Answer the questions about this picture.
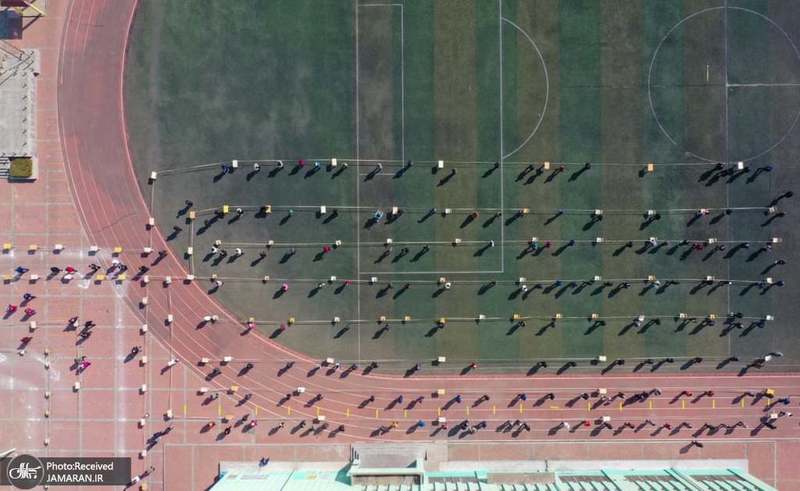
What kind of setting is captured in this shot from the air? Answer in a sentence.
What you see here is a sports ground.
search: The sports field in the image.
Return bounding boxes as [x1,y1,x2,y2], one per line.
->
[122,0,800,377]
